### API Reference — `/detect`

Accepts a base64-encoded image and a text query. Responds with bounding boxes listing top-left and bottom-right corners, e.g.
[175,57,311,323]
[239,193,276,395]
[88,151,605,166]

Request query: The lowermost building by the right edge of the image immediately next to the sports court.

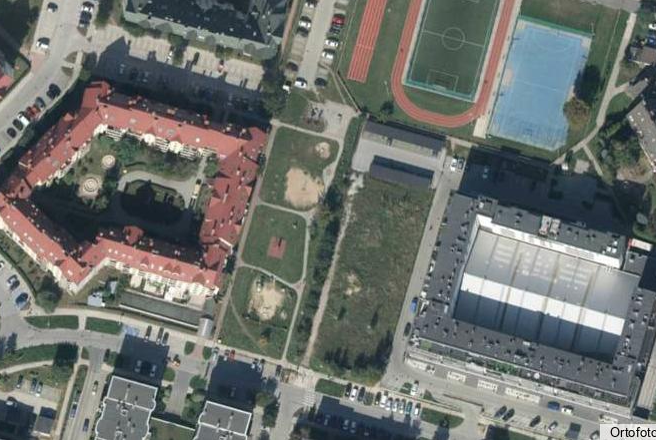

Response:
[413,191,656,422]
